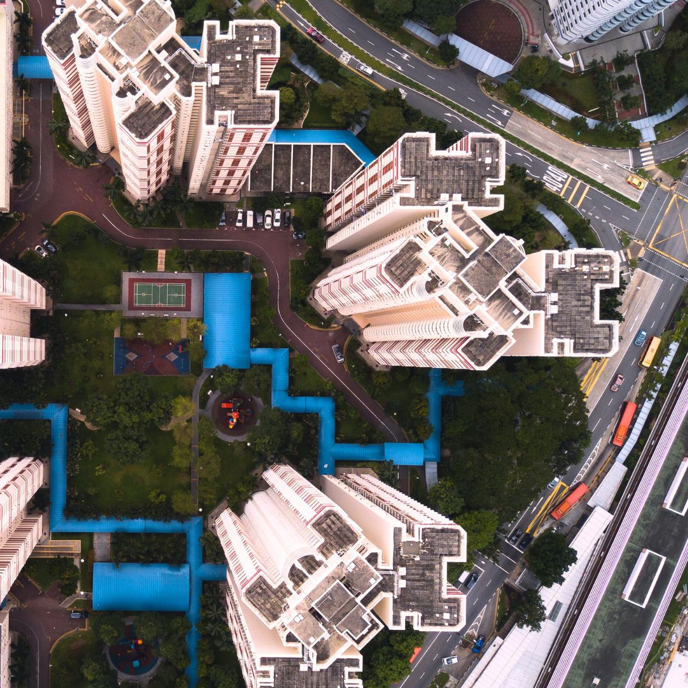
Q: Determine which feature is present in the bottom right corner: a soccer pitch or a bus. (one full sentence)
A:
Looking in the bottom right corner, you will find a bus.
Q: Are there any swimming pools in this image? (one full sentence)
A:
No, there appears to be no swimming pool in this shot.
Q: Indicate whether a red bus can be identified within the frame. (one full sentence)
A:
Yes, the picture does show a red bus.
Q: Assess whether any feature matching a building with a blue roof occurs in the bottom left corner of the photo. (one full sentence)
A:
Yes, a building with a blue roof appears in the bottom left corner of the photo.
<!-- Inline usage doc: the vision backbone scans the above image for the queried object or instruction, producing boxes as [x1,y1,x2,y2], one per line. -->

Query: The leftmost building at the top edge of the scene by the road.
[43,0,283,207]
